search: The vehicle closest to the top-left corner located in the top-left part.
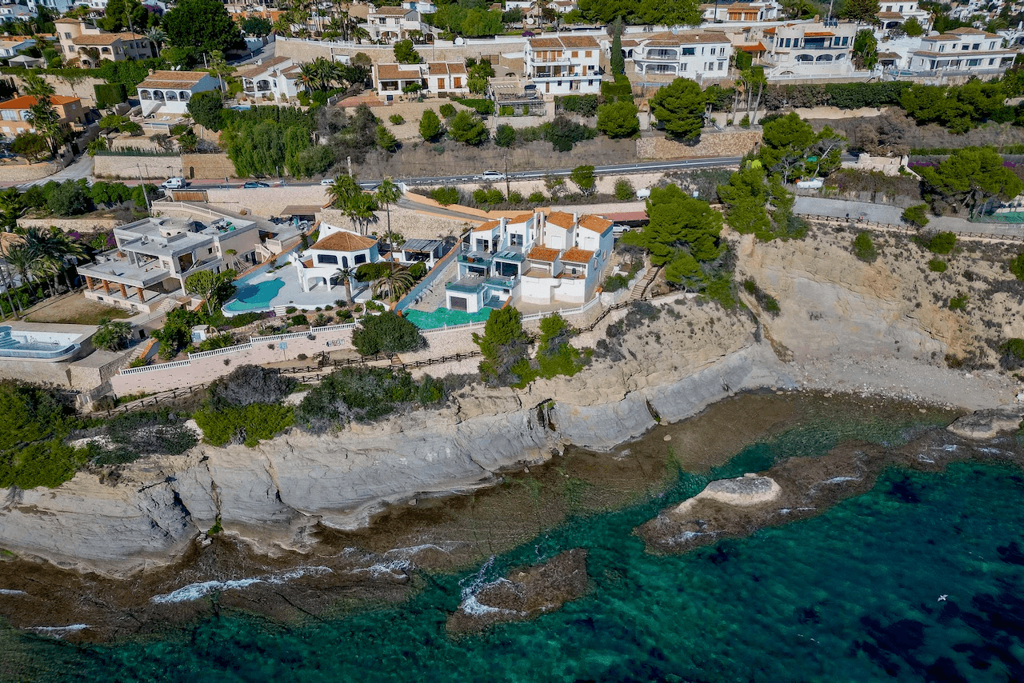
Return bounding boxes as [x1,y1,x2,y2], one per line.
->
[159,175,188,188]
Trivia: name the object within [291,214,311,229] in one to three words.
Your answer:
work vehicle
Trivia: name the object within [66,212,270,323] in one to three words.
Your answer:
house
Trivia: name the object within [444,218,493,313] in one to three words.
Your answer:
house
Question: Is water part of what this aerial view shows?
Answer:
Yes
